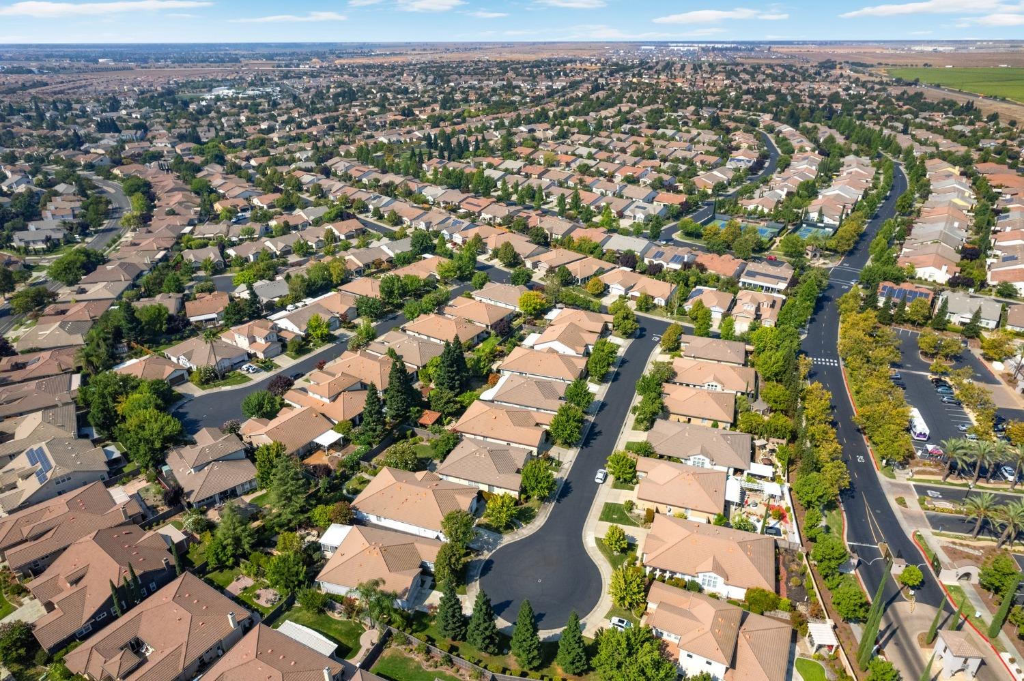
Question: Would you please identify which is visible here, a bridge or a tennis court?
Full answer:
Of the two, only a tennis court appears.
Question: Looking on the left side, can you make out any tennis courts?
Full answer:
No, the scene shows no tennis court on the left side.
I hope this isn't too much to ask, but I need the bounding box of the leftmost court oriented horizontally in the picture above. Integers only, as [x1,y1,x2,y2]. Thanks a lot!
[700,211,782,244]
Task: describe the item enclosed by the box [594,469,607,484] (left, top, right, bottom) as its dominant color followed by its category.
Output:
white vehicle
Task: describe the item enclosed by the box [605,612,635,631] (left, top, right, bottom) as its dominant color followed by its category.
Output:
white car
